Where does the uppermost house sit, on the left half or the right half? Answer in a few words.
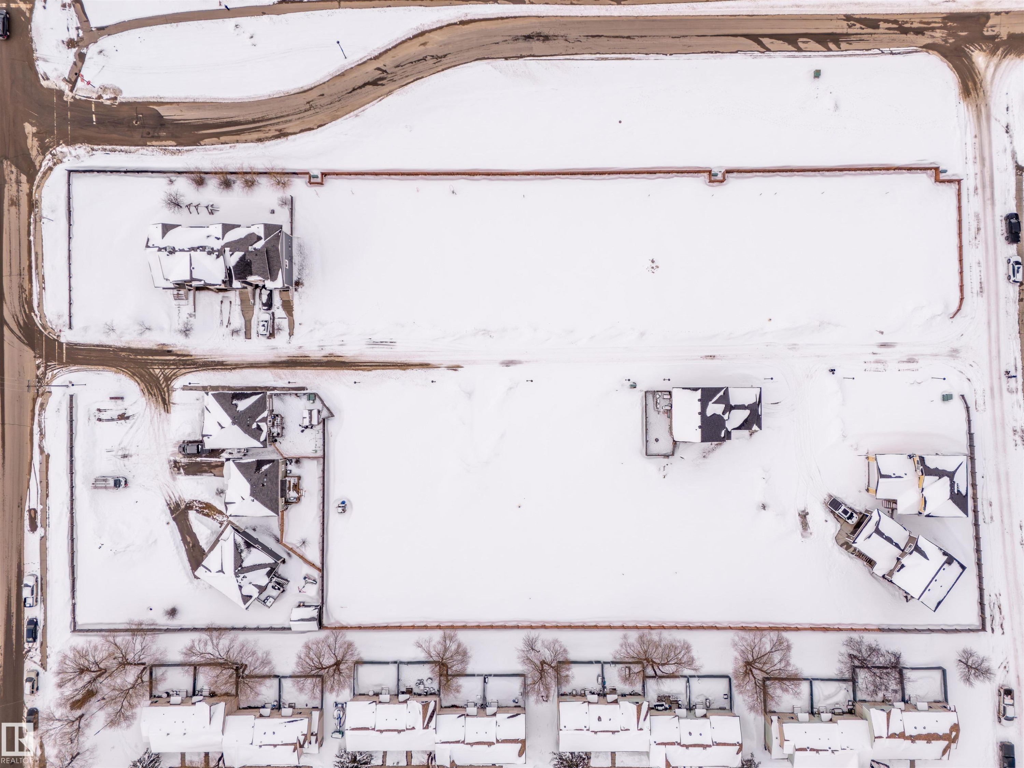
left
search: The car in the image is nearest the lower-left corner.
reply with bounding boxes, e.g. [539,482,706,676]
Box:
[25,707,40,733]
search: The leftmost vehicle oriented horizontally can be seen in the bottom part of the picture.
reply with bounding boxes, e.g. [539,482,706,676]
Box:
[91,476,127,490]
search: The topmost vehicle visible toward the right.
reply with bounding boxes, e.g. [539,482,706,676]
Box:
[1005,213,1022,244]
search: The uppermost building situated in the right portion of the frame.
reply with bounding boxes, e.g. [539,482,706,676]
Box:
[655,387,762,443]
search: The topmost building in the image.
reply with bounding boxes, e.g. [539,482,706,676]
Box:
[145,223,293,312]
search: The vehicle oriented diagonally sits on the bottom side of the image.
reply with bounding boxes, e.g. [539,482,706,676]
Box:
[826,497,858,524]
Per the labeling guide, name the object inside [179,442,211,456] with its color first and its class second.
gray vehicle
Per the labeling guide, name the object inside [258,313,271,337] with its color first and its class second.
white vehicle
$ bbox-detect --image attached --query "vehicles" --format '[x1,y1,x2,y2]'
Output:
[258,313,271,337]
[24,618,38,644]
[24,669,39,696]
[25,707,40,733]
[1005,213,1022,244]
[826,497,858,524]
[179,442,211,456]
[998,687,1015,726]
[0,11,11,40]
[260,288,273,313]
[91,476,127,490]
[22,574,39,607]
[1008,257,1024,283]
[999,741,1015,768]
